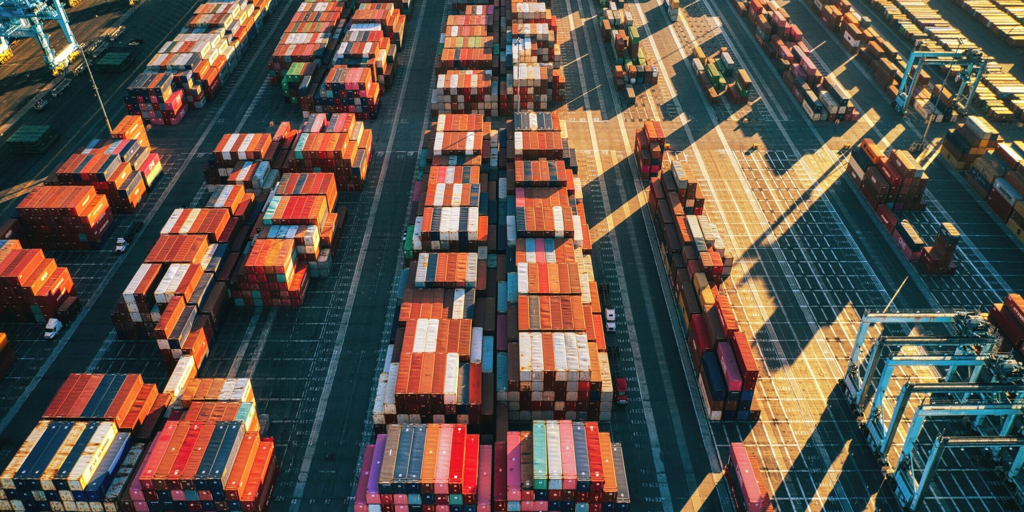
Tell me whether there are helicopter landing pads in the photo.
No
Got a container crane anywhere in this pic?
Yes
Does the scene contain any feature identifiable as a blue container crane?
Yes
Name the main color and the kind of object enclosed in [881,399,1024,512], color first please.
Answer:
blue container crane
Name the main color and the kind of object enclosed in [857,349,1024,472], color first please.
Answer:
blue container crane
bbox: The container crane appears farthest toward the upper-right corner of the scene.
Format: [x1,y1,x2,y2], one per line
[893,44,997,118]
